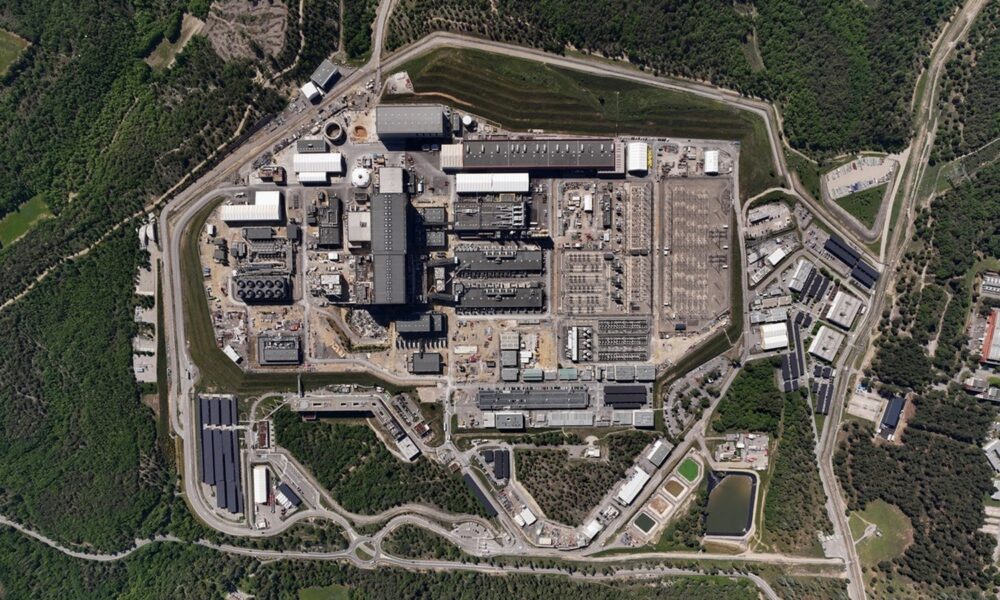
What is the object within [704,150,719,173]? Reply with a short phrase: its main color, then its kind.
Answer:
white tent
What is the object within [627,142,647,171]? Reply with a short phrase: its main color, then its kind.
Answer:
white tent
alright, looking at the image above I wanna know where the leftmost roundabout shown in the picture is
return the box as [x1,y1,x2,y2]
[350,536,381,566]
